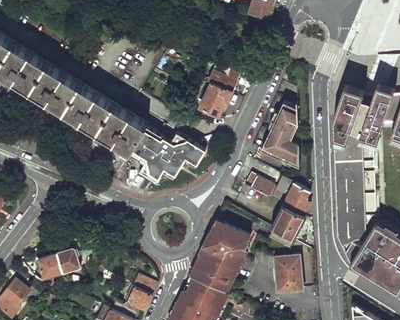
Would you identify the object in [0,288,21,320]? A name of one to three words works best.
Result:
house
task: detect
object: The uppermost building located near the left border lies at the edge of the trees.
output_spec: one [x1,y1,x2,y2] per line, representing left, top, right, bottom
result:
[0,36,148,162]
